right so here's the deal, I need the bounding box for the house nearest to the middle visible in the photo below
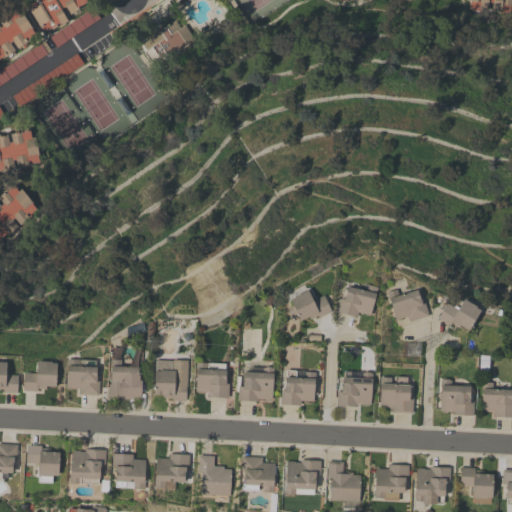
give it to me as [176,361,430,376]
[292,294,334,320]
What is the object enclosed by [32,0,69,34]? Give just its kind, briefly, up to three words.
building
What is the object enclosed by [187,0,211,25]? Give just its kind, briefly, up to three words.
swimming pool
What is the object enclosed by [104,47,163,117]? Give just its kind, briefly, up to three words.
tennis court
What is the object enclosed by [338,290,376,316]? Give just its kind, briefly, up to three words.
house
